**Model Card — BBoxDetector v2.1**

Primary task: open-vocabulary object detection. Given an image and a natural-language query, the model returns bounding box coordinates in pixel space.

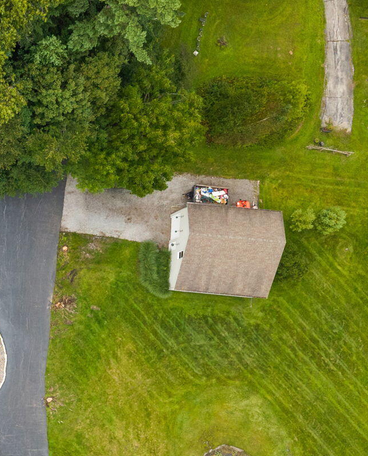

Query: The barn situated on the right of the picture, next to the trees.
[166,203,288,304]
